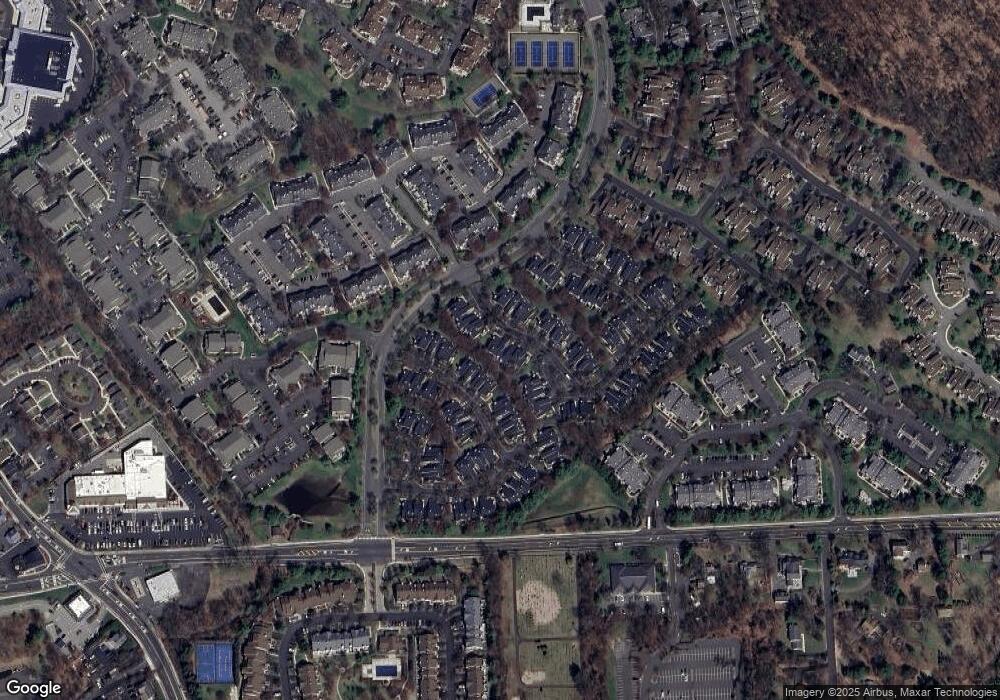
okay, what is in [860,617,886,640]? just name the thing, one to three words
house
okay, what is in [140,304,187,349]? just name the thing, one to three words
building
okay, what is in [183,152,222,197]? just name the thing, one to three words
building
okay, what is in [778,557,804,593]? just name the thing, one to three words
house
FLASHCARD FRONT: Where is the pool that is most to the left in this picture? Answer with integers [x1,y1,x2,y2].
[199,288,229,321]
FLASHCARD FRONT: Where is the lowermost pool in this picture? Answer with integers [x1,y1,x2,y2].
[362,657,400,679]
